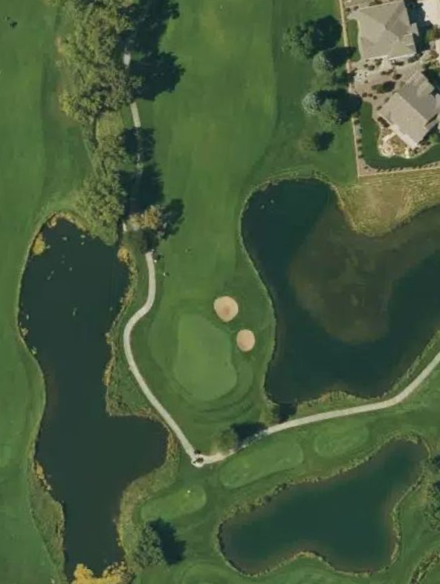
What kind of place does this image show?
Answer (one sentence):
The area seen from above is a golf course.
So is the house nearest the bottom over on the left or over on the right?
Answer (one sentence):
The house nearest the bottom appears in the right half of the scene.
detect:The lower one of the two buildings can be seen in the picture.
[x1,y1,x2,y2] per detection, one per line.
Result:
[378,70,440,141]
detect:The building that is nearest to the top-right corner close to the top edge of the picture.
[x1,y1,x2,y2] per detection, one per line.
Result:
[356,0,420,60]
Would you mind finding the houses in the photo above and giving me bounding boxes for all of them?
[378,70,440,141]
[356,0,420,60]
